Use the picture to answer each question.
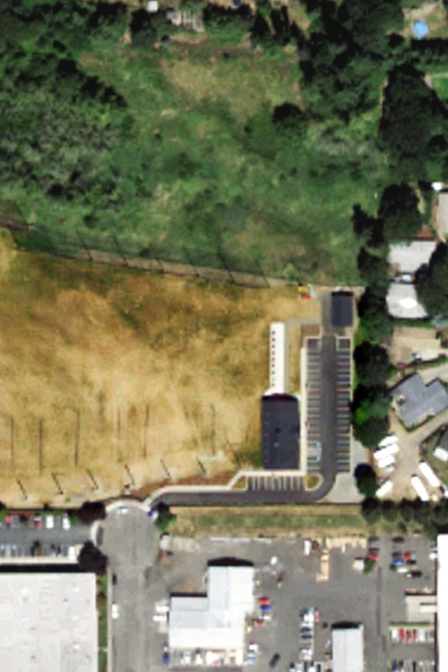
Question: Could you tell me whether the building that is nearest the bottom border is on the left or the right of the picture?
right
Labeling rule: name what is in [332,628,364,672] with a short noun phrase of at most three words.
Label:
building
